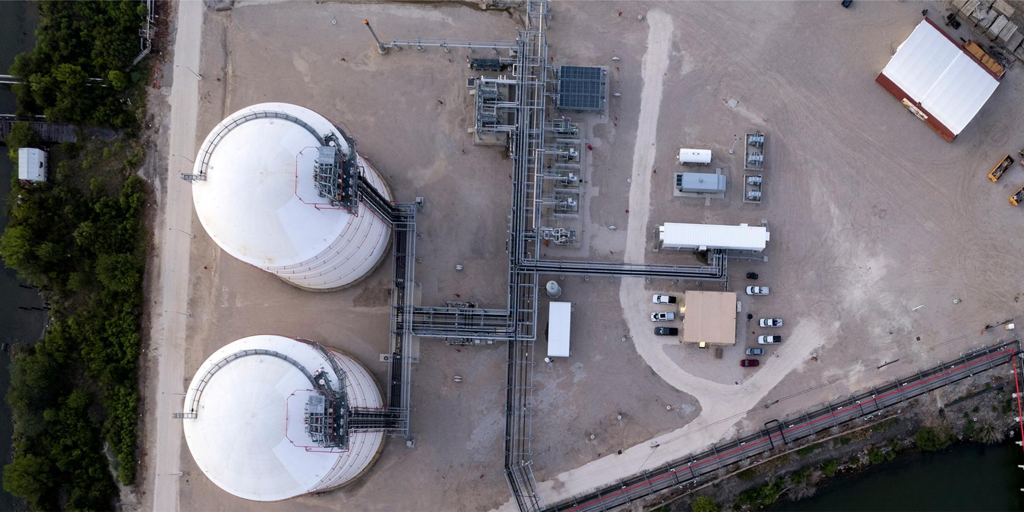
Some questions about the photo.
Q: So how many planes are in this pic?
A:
zero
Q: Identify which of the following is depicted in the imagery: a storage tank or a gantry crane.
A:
storage tank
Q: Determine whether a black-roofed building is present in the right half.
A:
No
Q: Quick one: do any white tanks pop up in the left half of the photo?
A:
Yes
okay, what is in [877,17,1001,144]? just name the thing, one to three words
hangar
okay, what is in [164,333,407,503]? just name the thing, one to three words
storage tank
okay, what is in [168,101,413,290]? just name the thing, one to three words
storage tank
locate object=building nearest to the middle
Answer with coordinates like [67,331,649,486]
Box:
[546,302,572,357]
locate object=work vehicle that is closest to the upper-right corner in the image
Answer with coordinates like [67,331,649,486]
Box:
[951,14,963,29]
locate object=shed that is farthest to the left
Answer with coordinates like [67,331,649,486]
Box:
[18,147,56,185]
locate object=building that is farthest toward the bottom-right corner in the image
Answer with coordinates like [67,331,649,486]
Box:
[679,291,736,348]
